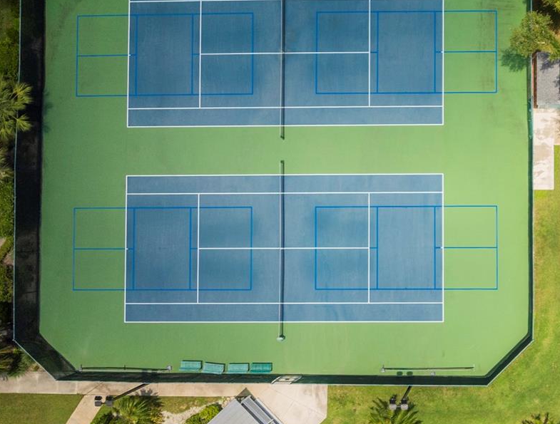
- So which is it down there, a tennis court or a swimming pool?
tennis court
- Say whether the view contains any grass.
Yes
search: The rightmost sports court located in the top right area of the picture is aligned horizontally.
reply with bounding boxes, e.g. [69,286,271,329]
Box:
[317,10,498,94]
